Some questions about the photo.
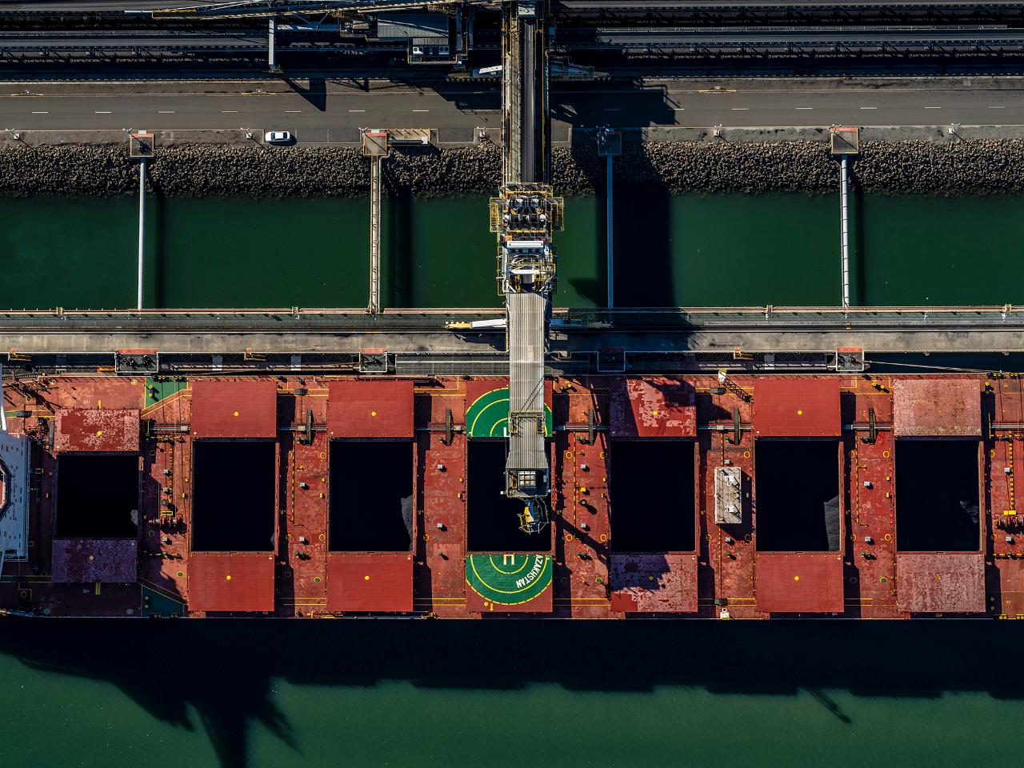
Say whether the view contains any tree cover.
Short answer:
No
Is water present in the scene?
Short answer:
Yes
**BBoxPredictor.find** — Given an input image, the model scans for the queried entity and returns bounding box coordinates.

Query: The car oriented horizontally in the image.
[265,131,290,143]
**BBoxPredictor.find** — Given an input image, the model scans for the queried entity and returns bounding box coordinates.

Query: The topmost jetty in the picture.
[0,303,1024,354]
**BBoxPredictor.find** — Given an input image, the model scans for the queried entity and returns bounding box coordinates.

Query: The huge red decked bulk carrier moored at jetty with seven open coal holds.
[0,362,1024,620]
